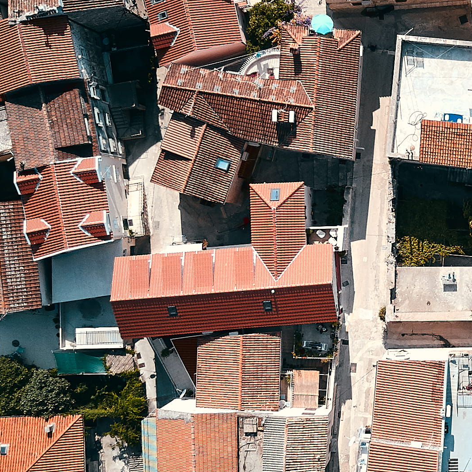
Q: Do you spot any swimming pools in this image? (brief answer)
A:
No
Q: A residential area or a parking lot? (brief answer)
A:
residential area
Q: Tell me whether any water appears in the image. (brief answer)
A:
No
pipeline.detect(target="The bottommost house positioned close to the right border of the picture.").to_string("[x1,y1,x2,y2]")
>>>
[367,350,451,472]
